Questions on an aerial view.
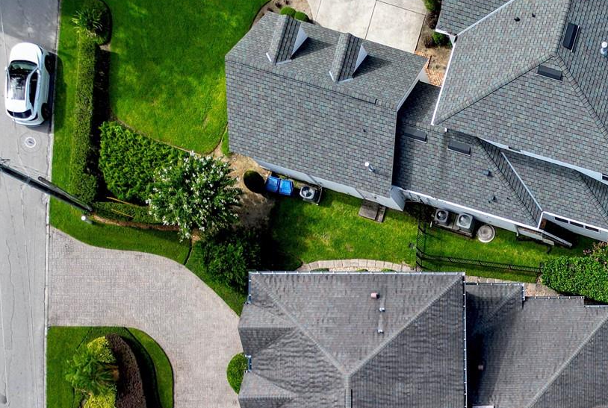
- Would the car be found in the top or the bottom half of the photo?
top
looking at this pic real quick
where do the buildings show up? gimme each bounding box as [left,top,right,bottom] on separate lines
[238,270,608,408]
[224,0,608,249]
